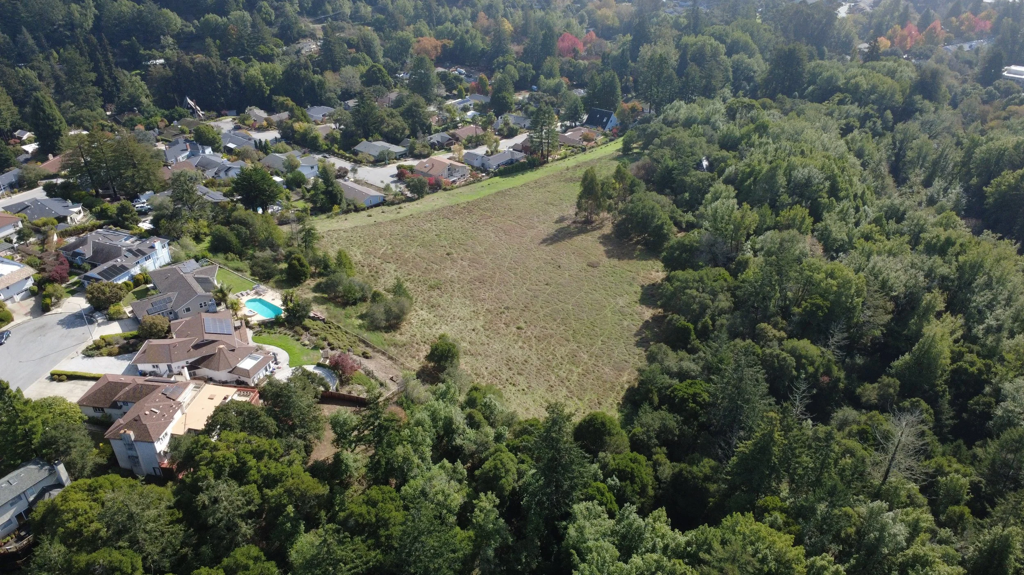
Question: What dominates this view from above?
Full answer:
The scene is dominated by trees.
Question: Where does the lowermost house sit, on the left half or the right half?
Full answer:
You can find the lowermost house on the left side of the picture.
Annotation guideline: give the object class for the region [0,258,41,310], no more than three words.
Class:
house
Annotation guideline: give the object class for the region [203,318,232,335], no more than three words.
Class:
solar panel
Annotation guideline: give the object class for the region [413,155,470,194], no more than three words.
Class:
house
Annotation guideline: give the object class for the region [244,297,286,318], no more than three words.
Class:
swimming pool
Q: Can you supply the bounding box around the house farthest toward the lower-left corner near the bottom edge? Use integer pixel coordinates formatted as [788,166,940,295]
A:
[0,455,73,550]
